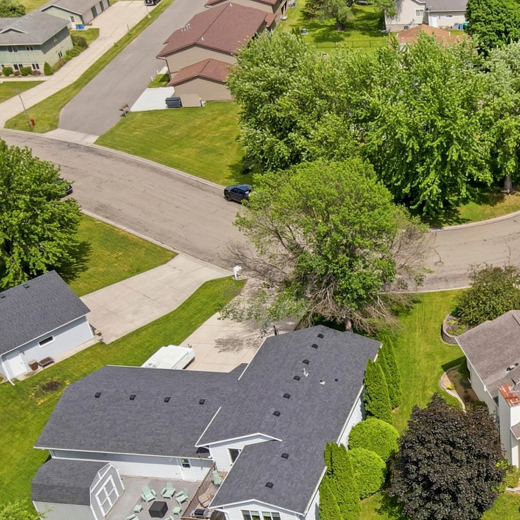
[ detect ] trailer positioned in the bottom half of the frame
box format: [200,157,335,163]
[147,347,195,369]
